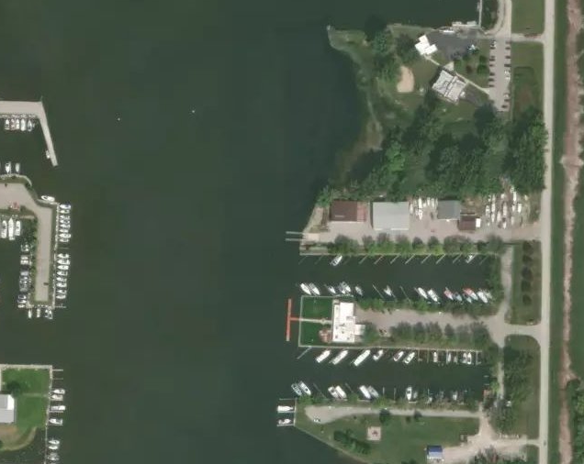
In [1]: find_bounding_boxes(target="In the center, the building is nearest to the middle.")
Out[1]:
[330,201,366,221]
